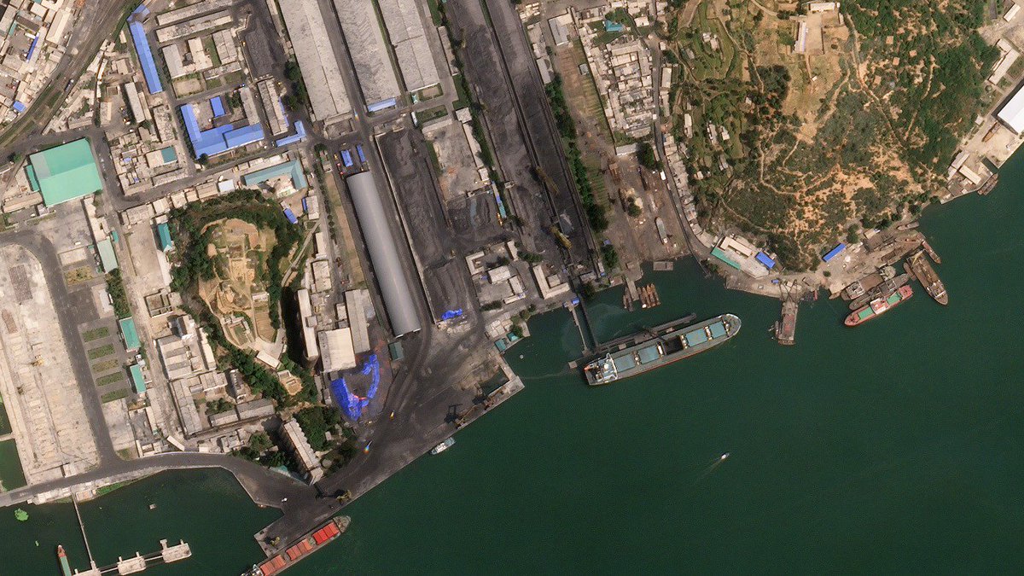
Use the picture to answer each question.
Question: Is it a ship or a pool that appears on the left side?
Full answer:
There is a ship on the left side.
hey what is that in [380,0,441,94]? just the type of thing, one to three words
shed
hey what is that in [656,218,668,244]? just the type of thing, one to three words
boat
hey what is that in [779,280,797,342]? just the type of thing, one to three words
ship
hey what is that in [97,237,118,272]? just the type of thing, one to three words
building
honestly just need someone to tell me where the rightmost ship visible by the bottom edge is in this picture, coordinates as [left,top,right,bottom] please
[243,517,352,576]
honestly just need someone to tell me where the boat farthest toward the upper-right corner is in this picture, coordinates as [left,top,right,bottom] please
[983,123,998,142]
